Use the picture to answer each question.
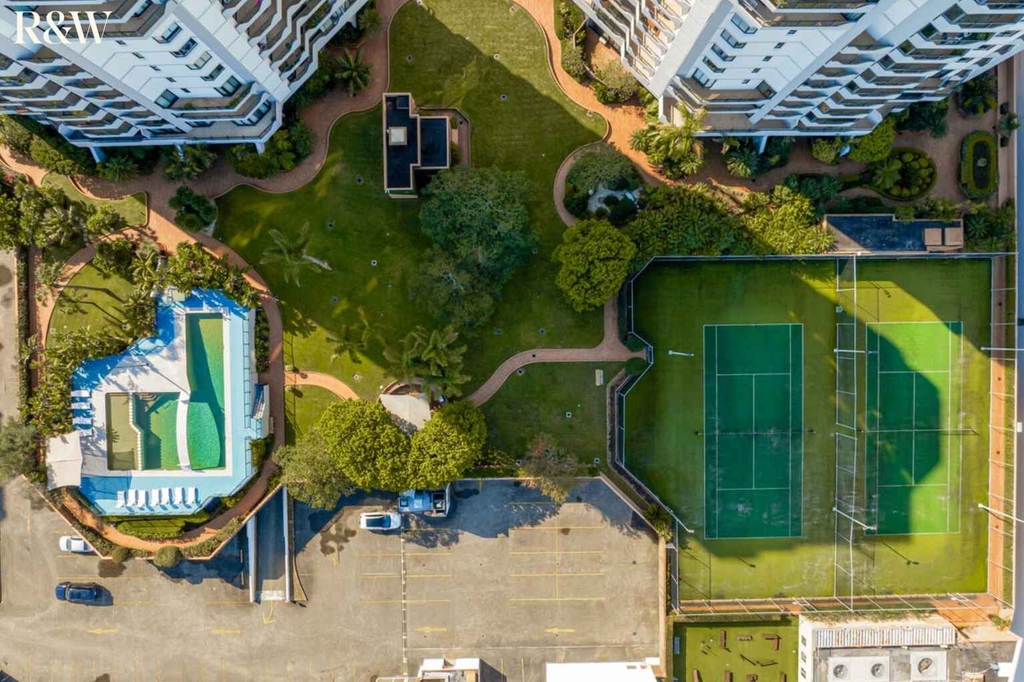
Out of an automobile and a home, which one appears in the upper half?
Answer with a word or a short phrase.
home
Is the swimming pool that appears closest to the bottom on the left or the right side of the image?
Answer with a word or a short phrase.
left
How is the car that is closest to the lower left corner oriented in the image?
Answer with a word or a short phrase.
from side to side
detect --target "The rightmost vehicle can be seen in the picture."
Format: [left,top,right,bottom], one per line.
[400,488,449,515]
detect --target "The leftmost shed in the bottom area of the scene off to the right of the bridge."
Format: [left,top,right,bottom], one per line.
[252,382,277,437]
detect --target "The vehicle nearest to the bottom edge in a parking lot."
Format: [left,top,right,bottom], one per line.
[59,579,102,602]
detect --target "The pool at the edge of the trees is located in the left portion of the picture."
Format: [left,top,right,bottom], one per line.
[71,289,269,516]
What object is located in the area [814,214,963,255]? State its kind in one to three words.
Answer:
house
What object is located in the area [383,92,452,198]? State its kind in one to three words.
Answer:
house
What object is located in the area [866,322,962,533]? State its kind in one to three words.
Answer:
tennis court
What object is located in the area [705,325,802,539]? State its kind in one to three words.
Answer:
tennis court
